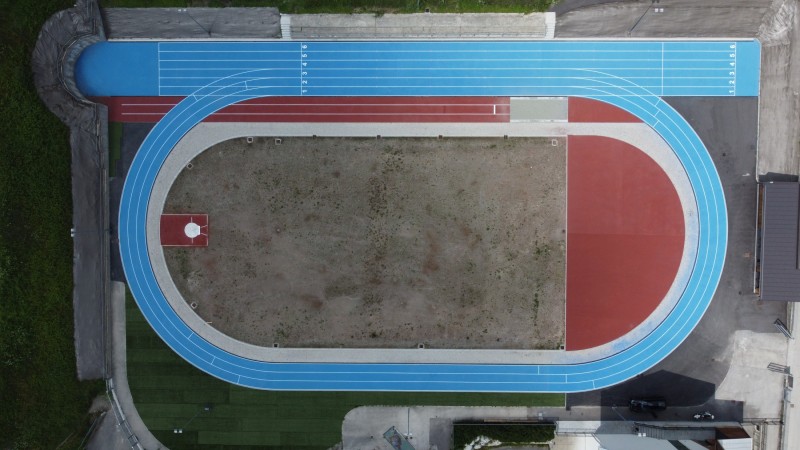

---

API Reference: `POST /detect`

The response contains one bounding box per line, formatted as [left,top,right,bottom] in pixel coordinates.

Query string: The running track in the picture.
[77,41,758,392]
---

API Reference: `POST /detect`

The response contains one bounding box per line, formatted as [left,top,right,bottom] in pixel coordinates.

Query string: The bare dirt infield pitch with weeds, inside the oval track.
[161,136,568,349]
